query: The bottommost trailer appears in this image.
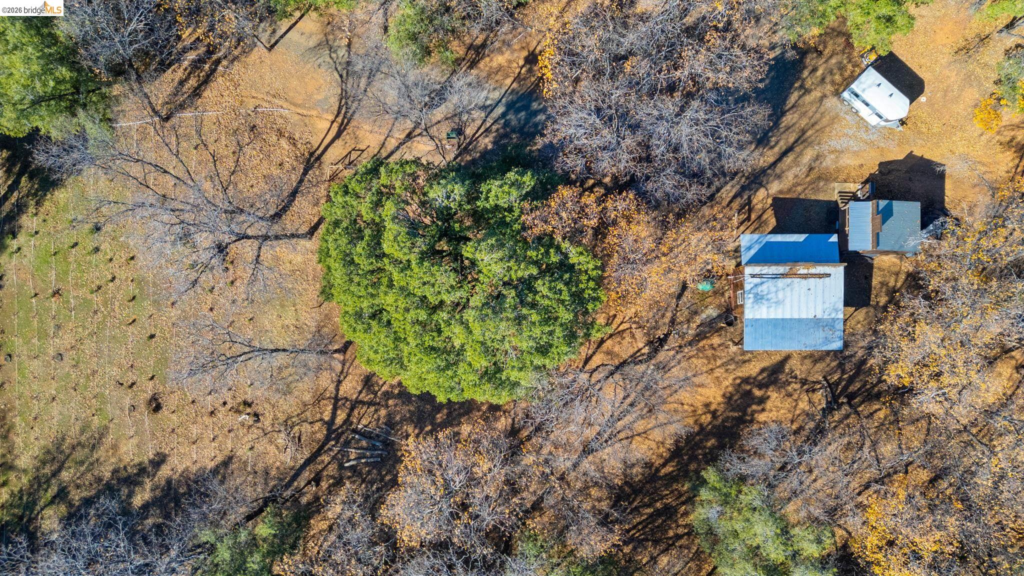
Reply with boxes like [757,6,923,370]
[839,66,908,132]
